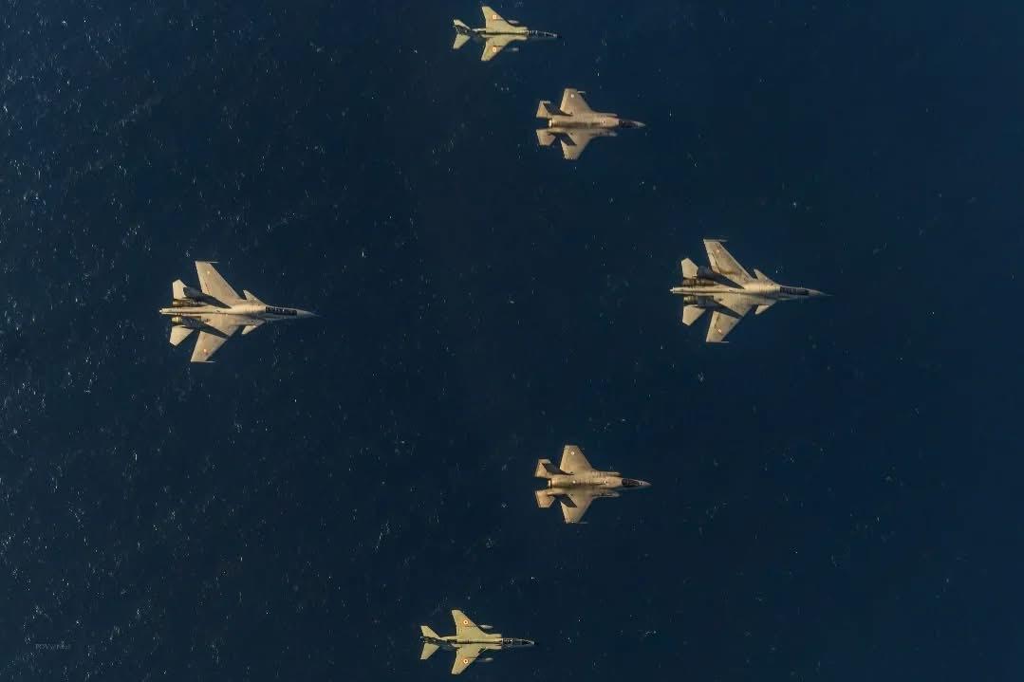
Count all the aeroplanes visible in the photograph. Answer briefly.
6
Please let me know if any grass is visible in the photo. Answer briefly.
No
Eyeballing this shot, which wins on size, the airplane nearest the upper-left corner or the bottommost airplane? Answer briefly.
the airplane nearest the upper-left corner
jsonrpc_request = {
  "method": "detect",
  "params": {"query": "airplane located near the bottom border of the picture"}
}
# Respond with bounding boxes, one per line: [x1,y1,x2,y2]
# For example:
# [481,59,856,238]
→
[420,610,534,674]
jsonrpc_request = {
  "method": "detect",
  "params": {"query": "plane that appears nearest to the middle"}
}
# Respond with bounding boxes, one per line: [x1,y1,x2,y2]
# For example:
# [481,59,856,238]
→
[536,445,651,523]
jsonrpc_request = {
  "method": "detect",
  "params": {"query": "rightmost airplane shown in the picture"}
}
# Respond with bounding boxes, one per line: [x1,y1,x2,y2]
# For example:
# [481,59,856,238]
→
[669,241,829,343]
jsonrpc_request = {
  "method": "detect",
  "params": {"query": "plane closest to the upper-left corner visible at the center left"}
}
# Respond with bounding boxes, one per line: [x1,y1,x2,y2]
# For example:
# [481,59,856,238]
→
[158,262,314,363]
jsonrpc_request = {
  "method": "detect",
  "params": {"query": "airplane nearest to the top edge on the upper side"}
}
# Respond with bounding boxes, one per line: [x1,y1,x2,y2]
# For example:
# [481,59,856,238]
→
[453,6,559,59]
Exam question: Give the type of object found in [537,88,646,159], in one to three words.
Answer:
airplane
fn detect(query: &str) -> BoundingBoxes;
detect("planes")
[669,241,829,343]
[536,445,651,523]
[537,88,646,159]
[453,6,559,59]
[420,610,534,674]
[158,262,314,363]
